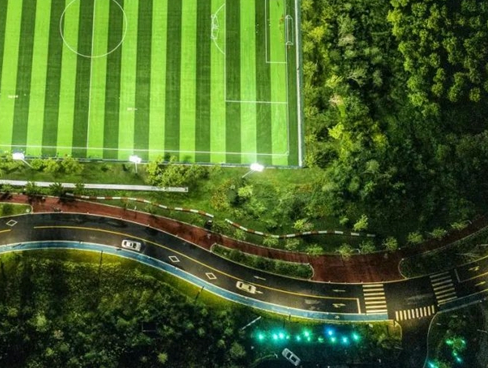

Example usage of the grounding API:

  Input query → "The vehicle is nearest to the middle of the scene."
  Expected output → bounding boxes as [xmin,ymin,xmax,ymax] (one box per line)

[237,281,257,294]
